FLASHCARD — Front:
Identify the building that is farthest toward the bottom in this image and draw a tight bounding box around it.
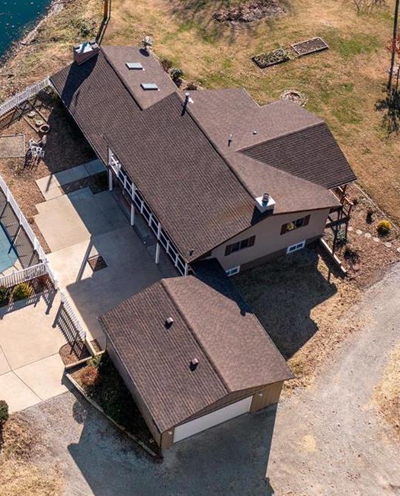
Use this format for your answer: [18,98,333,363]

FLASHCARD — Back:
[99,260,298,447]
